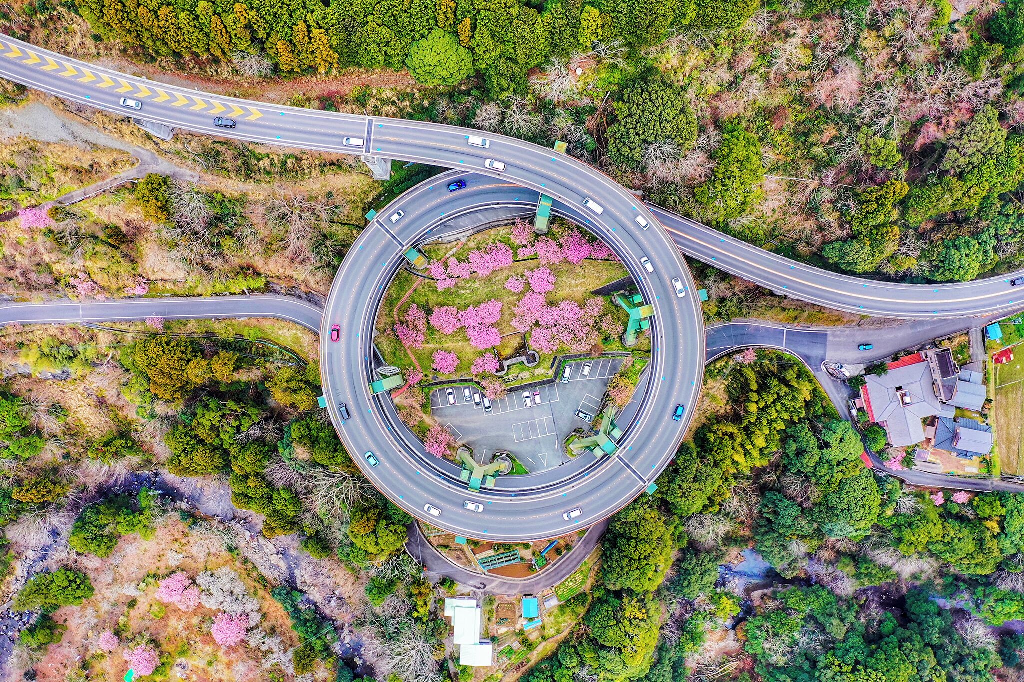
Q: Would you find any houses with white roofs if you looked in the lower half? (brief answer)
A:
Yes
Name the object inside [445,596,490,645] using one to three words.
house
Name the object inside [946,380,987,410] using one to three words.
shed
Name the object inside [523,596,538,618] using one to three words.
shed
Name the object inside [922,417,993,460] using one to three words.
house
